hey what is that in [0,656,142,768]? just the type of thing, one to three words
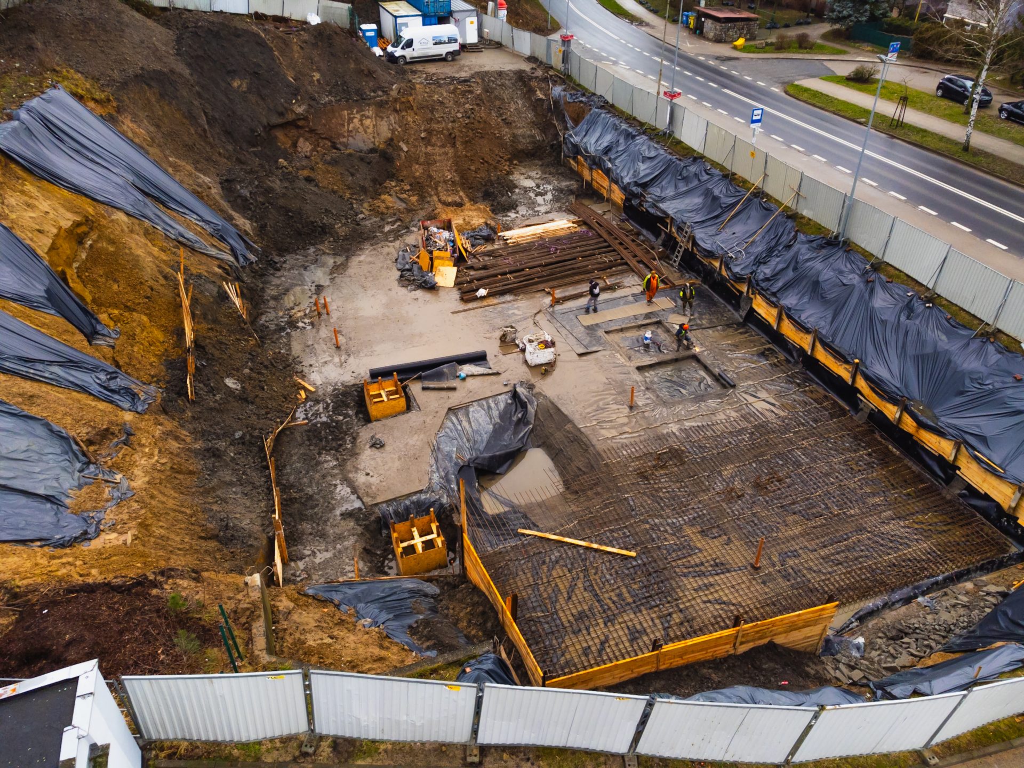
building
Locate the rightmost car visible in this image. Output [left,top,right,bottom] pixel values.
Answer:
[1002,100,1024,126]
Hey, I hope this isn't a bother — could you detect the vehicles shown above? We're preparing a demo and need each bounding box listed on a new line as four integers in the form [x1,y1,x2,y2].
[939,71,998,106]
[384,20,463,65]
[1002,100,1024,126]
